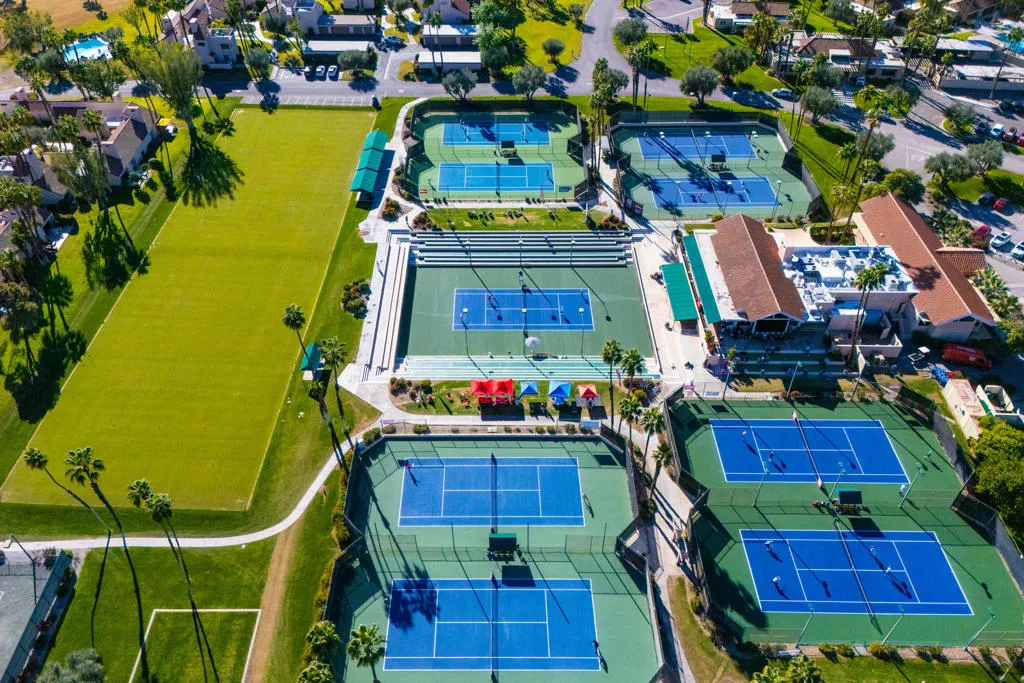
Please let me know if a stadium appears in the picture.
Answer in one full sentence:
Yes, a stadium appears in the view.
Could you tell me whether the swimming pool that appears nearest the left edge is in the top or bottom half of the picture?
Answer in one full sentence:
The swimming pool that appears nearest the left edge sits in the top half of the picture.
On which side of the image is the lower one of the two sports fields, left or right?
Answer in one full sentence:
It is on the left.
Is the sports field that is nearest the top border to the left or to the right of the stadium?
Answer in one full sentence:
The sports field that is nearest the top border appears to the left of the stadium in this view.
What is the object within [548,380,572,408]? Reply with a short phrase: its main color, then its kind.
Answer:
blue tent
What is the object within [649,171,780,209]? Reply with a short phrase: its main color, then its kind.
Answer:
blue tennis court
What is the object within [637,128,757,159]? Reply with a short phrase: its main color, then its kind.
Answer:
blue tennis court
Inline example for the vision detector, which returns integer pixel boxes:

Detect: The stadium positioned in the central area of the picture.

[362,228,668,379]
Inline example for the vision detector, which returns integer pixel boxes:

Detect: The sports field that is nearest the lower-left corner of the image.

[127,608,262,683]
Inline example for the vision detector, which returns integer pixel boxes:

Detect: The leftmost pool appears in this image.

[62,37,109,60]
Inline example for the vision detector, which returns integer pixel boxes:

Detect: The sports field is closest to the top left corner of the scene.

[0,108,376,510]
